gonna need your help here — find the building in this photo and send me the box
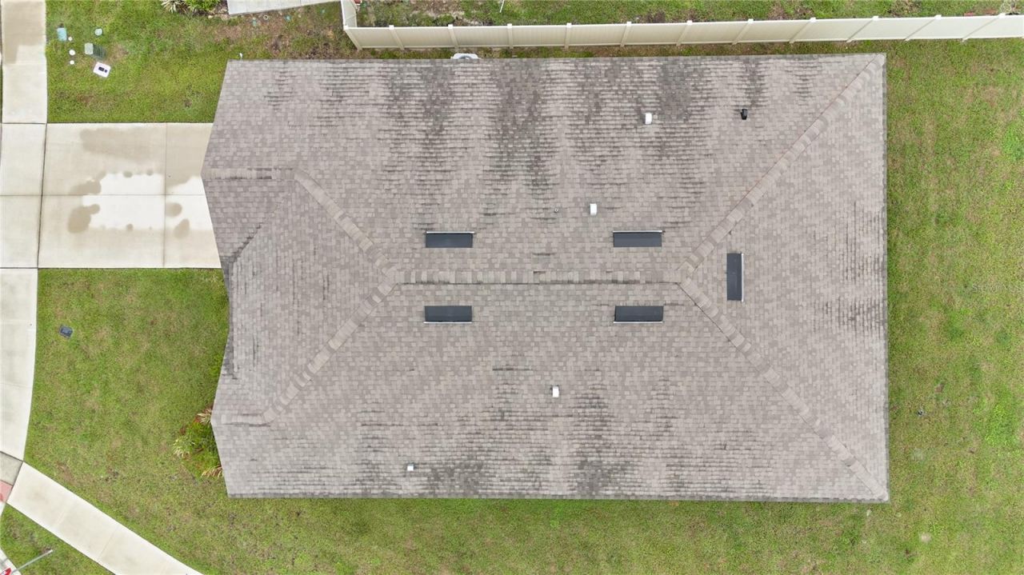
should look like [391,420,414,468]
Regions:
[201,53,888,503]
